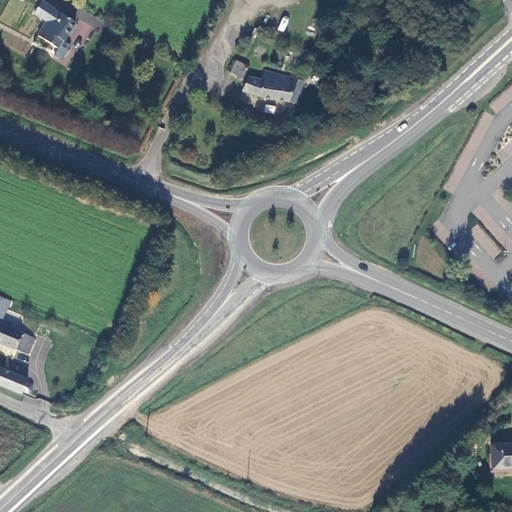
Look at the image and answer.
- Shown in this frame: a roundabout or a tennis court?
roundabout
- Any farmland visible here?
Yes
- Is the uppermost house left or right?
left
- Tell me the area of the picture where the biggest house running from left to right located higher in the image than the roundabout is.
top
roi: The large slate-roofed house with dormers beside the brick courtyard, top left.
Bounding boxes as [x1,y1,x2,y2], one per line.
[34,0,76,59]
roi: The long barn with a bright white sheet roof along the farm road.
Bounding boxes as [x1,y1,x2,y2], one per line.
[0,368,32,396]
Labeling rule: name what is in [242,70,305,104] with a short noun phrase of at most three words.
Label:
house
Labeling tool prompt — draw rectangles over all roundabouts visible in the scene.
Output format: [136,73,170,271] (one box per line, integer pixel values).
[163,104,421,288]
